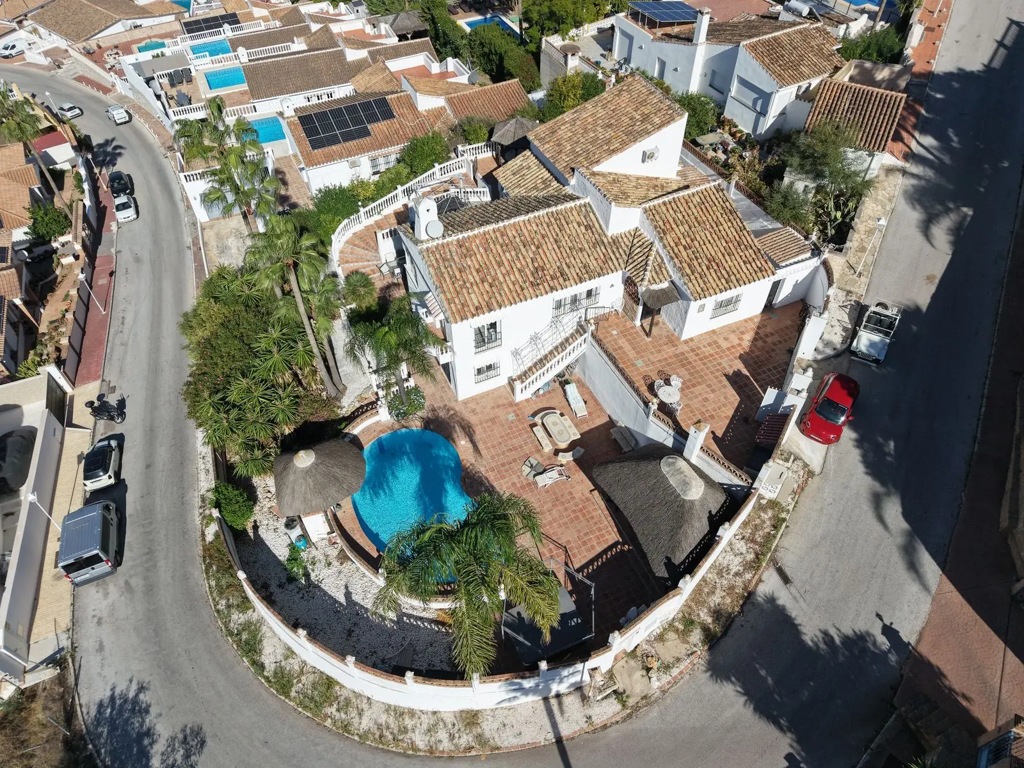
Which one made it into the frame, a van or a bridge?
van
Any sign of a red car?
Yes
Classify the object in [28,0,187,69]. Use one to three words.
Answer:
house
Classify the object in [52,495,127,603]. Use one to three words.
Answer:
van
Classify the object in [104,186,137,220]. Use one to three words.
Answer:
car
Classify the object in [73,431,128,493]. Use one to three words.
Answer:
car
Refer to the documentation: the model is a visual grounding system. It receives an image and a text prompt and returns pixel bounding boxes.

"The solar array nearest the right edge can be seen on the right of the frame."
[623,1,717,42]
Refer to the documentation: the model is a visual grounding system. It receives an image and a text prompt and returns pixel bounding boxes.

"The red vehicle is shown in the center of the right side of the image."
[802,369,867,444]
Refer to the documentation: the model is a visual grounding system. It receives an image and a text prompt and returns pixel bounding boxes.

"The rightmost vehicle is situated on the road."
[850,292,909,368]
